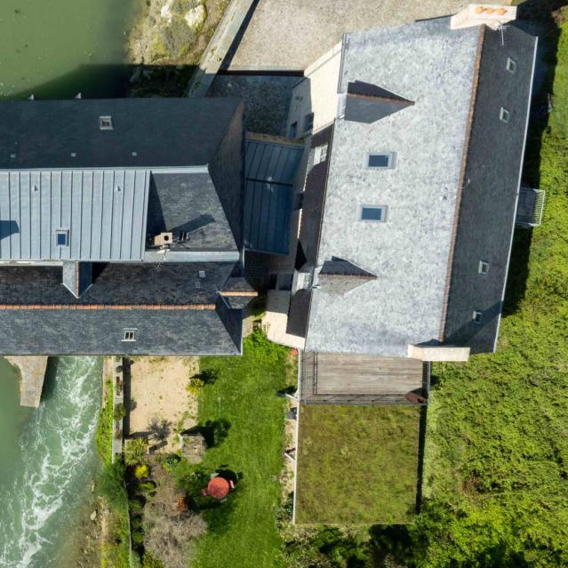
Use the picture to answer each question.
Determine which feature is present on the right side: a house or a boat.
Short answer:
house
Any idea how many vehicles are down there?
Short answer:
0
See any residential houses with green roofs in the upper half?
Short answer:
No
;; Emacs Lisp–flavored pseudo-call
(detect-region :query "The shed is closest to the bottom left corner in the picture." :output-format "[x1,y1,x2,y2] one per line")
[179,430,203,458]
